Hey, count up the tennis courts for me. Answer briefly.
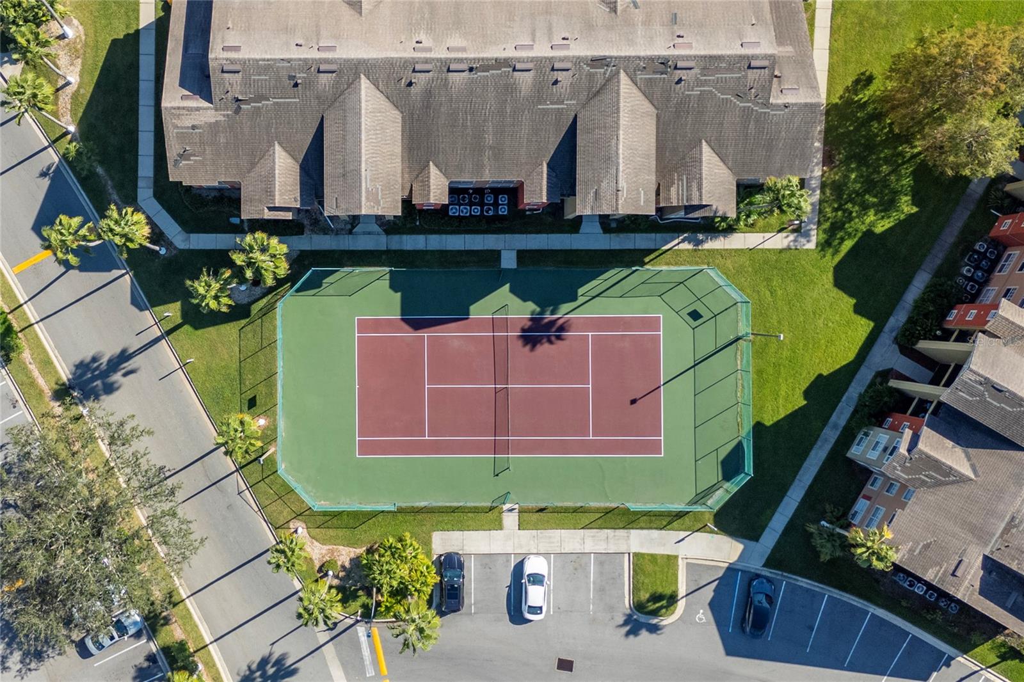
one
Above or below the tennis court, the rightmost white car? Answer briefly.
below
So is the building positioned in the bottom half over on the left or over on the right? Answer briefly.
right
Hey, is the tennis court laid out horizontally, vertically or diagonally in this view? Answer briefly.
horizontally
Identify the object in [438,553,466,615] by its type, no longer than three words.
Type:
car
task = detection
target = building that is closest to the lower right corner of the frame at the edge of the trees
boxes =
[833,190,1024,641]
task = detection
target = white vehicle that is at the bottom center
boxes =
[522,556,551,622]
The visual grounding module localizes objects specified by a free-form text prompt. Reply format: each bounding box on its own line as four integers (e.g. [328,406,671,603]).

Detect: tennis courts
[282,269,741,503]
